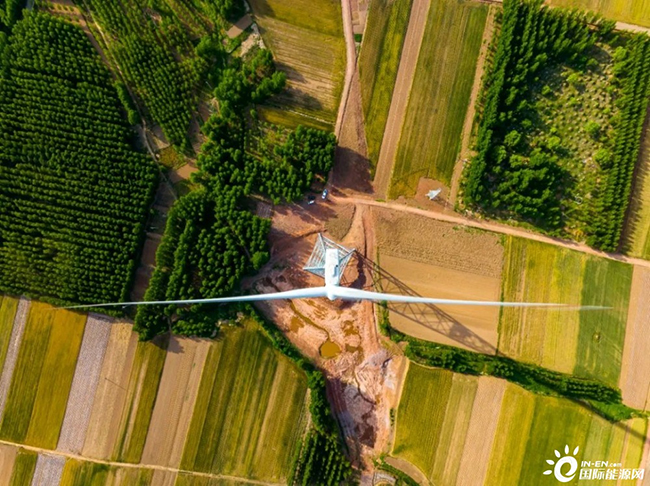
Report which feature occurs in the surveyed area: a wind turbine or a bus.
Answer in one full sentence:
The image shows a wind turbine.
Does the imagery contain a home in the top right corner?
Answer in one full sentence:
No, no home appears in the top right corner.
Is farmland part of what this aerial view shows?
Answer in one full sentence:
Yes, farmland shows up in the scene.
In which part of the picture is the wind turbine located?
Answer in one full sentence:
The wind turbine appears toward the center of the photo.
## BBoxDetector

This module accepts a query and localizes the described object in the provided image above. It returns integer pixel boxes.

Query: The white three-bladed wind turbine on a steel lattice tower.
[53,232,611,308]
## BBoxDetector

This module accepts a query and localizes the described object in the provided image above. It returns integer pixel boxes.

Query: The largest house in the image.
[225,14,253,39]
